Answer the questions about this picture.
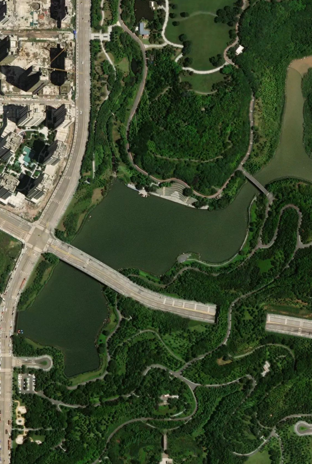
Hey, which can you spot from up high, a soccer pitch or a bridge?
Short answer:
bridge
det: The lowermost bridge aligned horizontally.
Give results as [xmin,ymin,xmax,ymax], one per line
[265,316,312,337]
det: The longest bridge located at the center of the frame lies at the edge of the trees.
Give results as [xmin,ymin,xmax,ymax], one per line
[42,235,215,321]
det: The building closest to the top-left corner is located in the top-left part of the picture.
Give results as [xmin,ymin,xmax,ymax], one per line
[0,0,15,29]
